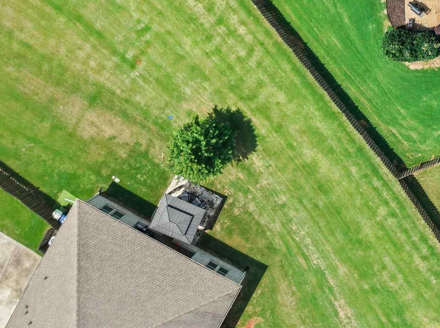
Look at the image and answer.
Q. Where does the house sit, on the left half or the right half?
left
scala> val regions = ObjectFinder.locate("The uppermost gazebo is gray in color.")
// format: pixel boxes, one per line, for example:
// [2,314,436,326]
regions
[148,186,215,245]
